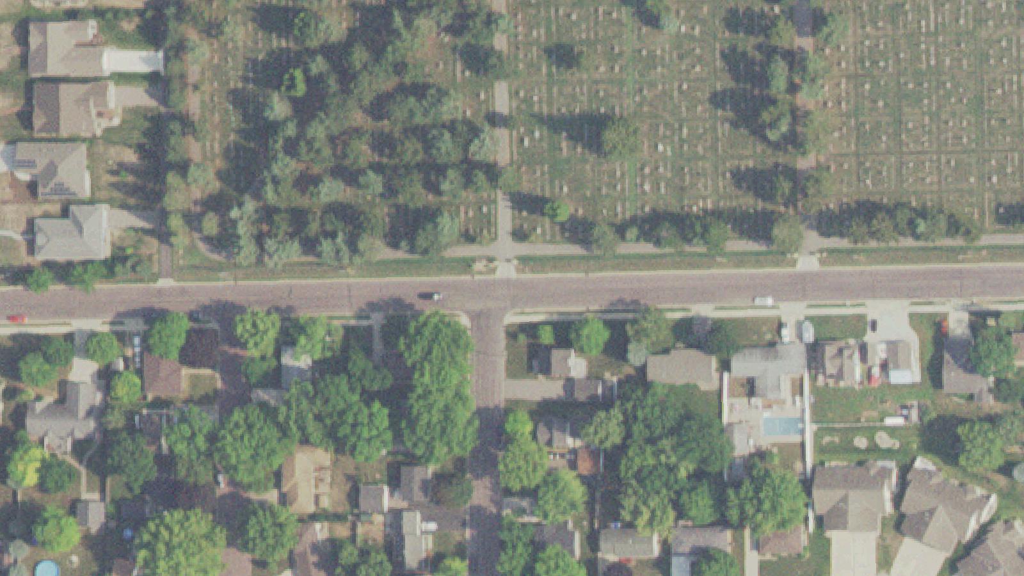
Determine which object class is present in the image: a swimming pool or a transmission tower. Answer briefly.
swimming pool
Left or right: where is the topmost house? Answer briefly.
left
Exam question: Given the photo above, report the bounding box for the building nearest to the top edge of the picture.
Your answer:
[30,21,107,78]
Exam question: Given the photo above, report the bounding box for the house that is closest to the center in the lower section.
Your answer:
[551,349,580,378]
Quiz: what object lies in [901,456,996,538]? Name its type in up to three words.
house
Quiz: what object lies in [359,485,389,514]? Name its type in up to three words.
building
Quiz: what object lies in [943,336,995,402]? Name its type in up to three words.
house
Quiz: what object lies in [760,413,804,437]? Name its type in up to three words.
swimming pool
